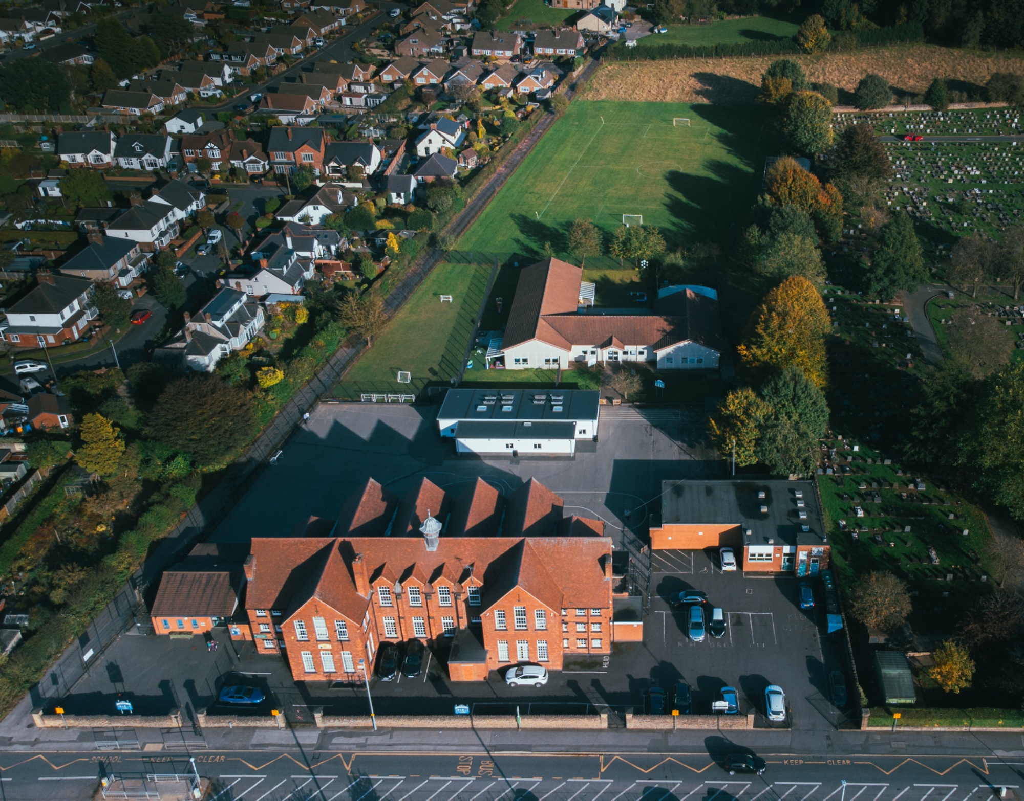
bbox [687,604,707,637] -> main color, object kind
blue car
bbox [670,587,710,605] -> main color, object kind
black car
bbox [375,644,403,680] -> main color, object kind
black car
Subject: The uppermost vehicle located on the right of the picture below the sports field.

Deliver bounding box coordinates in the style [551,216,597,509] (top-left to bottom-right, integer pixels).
[718,545,737,569]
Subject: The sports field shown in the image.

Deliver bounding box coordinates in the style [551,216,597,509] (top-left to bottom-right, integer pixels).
[450,99,796,265]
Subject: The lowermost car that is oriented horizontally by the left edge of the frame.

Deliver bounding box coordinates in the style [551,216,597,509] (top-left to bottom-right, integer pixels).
[13,357,47,372]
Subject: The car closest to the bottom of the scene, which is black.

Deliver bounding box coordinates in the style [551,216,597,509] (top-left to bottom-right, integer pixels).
[724,750,767,774]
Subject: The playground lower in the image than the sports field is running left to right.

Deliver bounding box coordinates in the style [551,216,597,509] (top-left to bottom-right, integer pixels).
[208,401,737,593]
